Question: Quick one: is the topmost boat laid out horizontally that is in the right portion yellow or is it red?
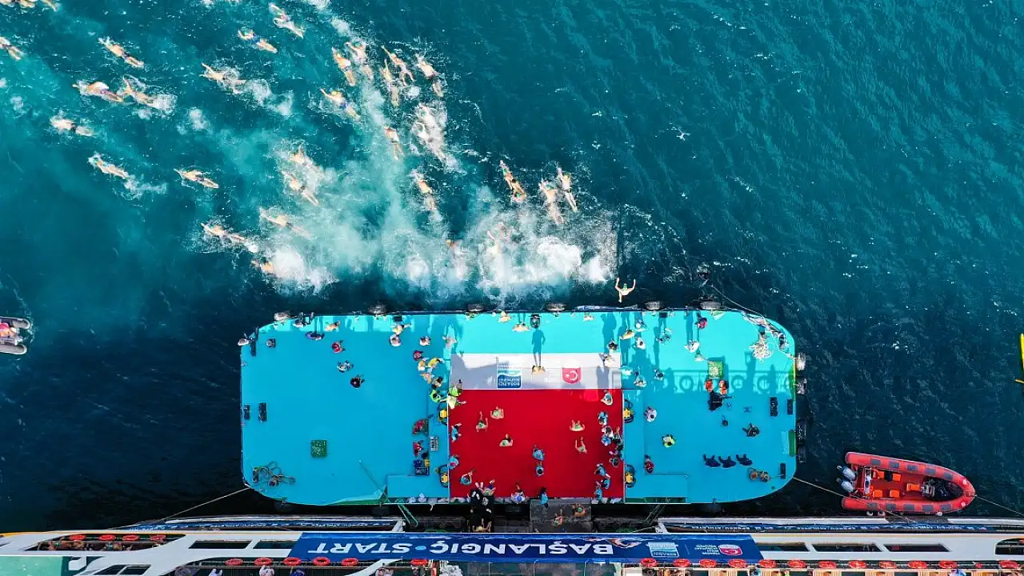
red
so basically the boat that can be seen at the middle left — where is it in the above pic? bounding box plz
[0,314,36,355]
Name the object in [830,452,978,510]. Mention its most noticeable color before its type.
red boat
